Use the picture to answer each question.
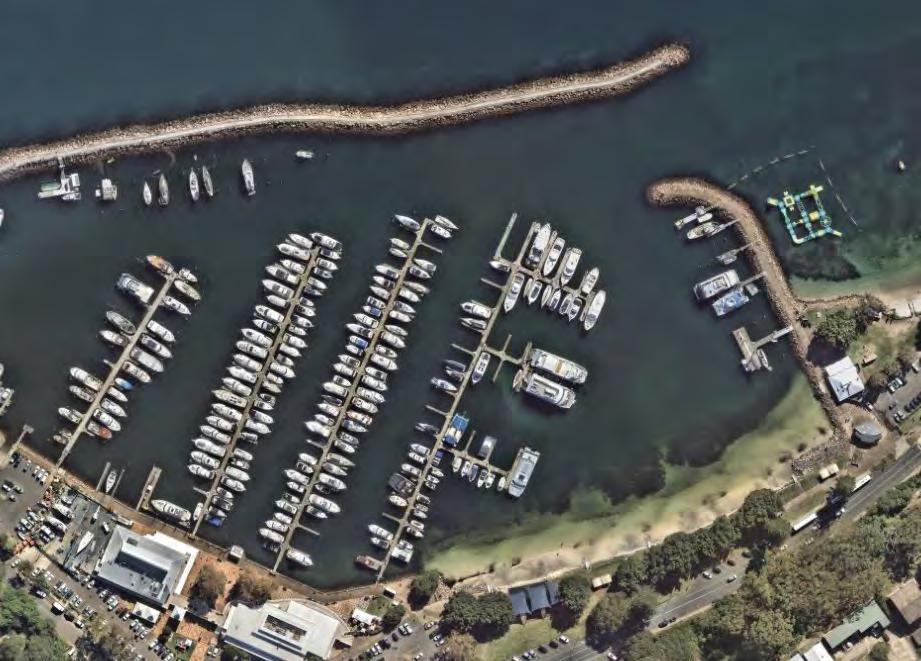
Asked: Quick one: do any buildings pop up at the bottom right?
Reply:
Yes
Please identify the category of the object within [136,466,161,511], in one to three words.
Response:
pier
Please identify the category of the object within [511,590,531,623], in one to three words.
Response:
building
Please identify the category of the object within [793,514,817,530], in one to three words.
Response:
vehicle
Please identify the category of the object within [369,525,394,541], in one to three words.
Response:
boat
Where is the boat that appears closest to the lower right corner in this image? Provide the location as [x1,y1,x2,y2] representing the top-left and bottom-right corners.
[760,350,773,372]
